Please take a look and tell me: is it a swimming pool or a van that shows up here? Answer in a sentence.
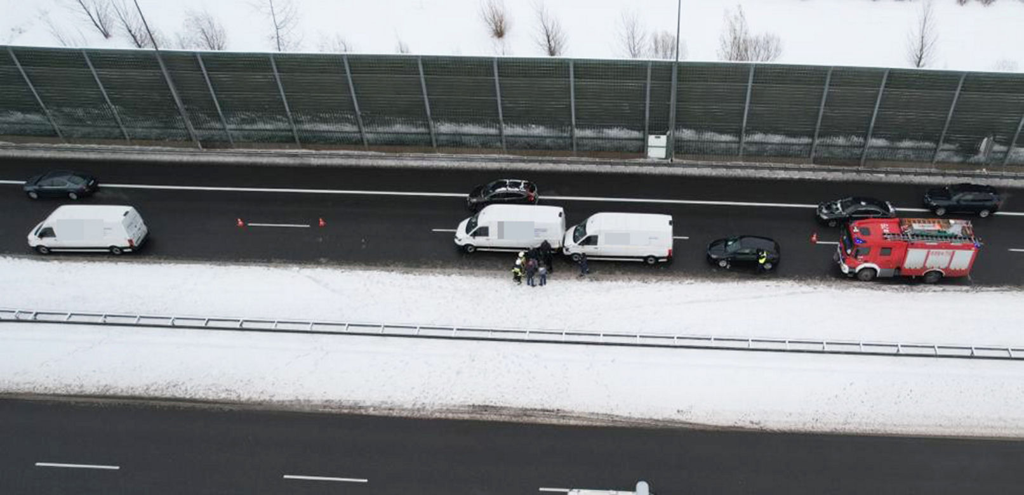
Looking from above, you can make out a van.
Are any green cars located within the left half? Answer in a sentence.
No, looking within the left half, there is no green car.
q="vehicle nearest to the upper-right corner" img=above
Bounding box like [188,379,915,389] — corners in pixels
[923,182,1003,218]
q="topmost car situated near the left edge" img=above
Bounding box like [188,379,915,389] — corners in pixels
[22,167,99,199]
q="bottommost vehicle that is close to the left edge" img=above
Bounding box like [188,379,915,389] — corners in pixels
[26,204,150,255]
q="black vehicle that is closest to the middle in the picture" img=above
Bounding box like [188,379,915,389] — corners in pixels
[465,180,537,213]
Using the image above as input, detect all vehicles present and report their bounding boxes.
[560,213,673,264]
[465,180,537,213]
[26,204,150,255]
[566,484,652,495]
[836,217,982,284]
[923,182,1003,218]
[708,234,781,272]
[454,204,565,255]
[814,195,896,227]
[22,167,99,199]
